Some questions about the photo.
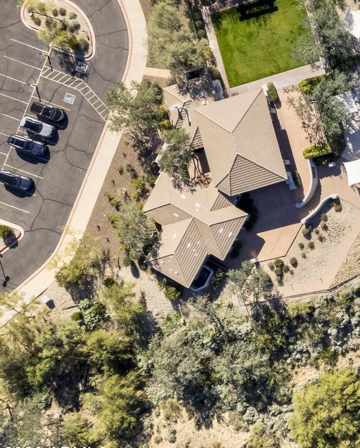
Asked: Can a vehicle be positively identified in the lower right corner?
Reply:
No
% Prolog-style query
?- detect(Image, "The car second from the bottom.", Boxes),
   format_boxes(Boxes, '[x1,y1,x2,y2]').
[8,134,47,156]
